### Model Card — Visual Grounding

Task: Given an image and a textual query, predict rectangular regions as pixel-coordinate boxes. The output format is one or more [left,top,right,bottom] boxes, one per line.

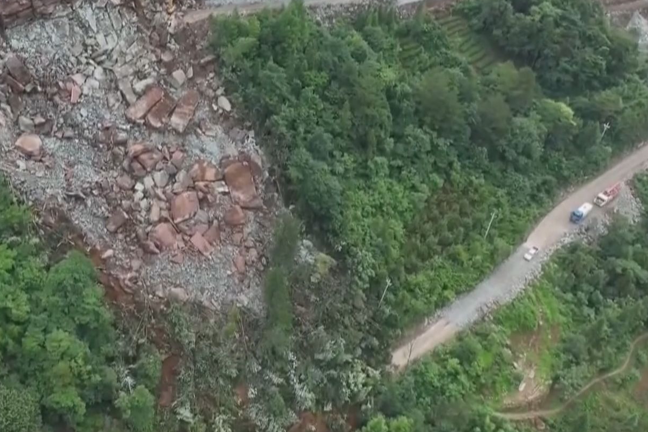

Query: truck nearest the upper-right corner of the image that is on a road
[595,175,626,203]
